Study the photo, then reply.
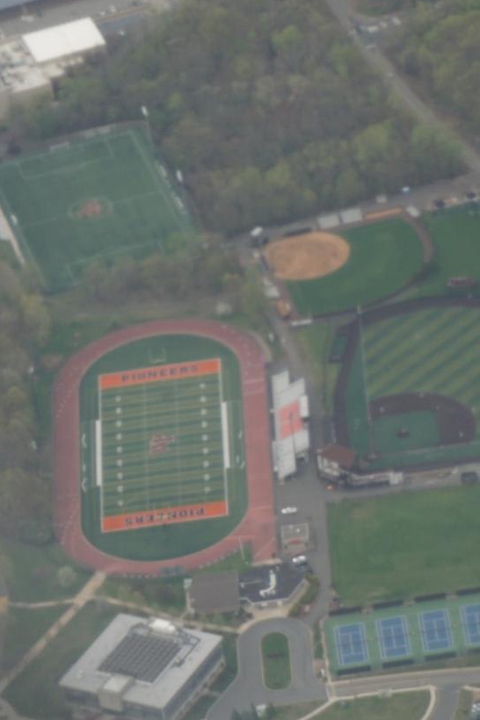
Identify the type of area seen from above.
sports ground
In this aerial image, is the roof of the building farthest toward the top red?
No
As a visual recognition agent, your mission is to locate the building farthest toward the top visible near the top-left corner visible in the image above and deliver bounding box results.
[23,18,108,67]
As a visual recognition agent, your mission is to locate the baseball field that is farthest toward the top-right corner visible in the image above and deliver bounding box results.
[264,215,432,317]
